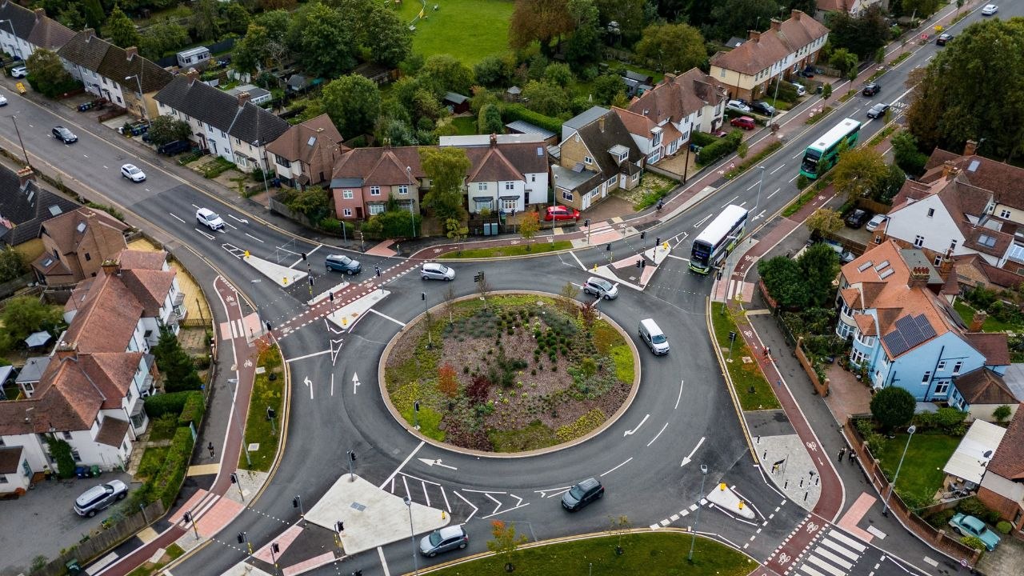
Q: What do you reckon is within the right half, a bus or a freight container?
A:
bus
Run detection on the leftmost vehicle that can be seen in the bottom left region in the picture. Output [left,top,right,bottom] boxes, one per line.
[67,476,129,522]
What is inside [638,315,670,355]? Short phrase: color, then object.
white van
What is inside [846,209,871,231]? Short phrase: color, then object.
black car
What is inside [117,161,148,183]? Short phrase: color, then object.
white car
